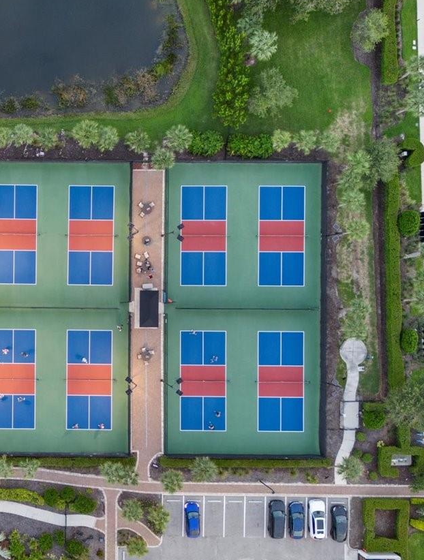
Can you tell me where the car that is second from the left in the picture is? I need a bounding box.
[267,499,287,538]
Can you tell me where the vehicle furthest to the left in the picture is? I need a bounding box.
[183,501,200,537]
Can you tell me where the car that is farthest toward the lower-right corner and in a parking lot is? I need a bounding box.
[329,505,349,541]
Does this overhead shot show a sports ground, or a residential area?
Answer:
sports ground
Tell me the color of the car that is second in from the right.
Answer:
white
